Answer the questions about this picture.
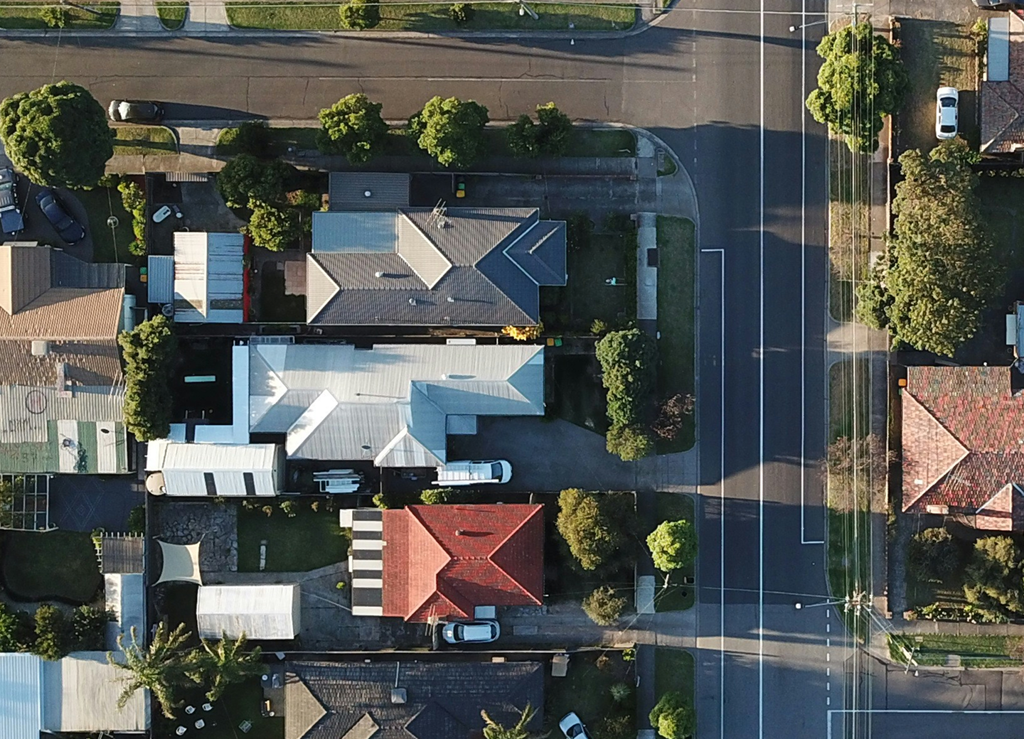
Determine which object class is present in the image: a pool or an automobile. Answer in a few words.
automobile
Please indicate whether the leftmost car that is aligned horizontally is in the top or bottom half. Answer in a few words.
top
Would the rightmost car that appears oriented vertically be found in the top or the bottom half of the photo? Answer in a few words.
top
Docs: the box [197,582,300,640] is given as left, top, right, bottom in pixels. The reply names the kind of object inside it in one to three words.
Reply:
shed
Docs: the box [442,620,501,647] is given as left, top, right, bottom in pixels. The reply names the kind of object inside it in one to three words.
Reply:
car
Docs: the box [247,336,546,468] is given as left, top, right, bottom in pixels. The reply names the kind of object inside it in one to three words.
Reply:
house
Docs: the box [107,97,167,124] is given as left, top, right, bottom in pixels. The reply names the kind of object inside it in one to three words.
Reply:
car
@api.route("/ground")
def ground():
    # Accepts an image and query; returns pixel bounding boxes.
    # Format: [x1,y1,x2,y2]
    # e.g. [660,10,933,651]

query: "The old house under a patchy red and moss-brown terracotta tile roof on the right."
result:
[901,361,1024,531]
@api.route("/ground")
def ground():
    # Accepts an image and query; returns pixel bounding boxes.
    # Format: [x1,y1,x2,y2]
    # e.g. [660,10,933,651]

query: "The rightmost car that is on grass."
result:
[553,708,590,739]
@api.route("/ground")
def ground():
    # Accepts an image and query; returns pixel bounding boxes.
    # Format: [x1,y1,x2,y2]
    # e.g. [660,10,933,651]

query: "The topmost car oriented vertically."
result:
[934,83,960,140]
